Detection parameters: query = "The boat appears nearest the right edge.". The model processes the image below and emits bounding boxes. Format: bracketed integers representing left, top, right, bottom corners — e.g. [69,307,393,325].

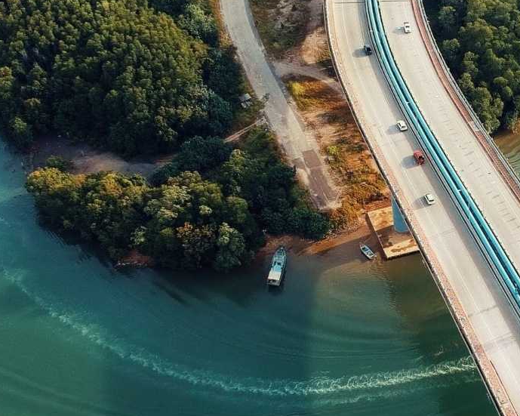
[361,244,377,261]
